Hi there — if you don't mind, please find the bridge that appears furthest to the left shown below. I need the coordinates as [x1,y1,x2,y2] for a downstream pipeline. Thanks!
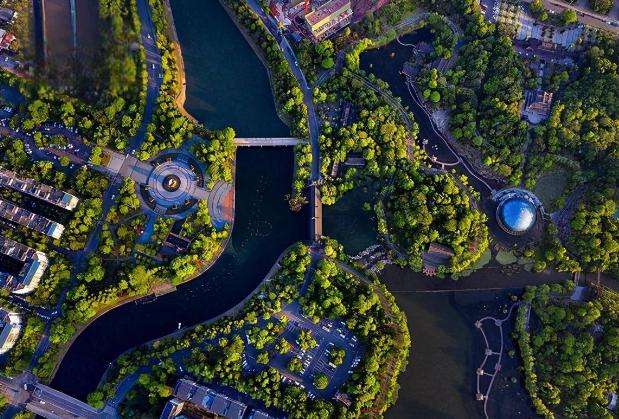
[20,379,109,419]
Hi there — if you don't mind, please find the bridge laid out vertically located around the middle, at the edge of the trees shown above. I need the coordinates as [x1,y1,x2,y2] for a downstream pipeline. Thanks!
[309,184,323,247]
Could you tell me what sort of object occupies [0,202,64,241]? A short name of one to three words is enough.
building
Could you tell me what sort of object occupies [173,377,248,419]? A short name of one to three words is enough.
building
